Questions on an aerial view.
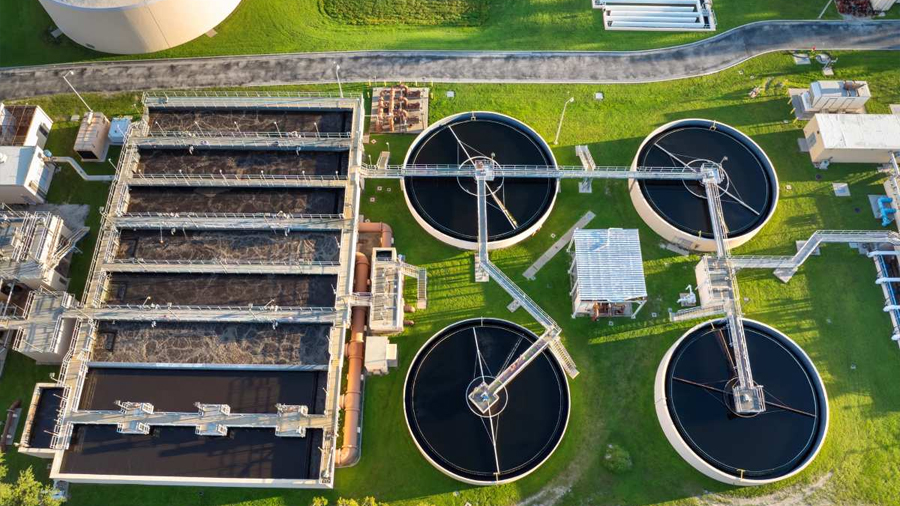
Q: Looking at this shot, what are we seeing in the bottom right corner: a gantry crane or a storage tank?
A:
storage tank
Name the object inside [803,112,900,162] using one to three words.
building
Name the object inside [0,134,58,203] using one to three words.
building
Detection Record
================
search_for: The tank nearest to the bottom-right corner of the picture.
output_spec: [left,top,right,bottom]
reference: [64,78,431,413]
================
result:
[654,305,830,485]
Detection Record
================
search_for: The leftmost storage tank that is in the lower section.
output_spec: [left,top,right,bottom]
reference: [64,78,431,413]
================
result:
[403,316,580,485]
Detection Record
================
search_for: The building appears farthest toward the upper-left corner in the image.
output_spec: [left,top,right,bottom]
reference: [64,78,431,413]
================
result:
[0,104,54,141]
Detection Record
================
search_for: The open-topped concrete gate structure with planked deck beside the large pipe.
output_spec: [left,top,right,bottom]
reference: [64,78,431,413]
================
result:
[347,248,427,336]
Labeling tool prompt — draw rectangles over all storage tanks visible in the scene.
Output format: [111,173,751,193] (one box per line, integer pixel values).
[403,316,580,485]
[592,0,717,29]
[39,0,243,54]
[628,118,780,252]
[654,305,830,485]
[403,110,558,249]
